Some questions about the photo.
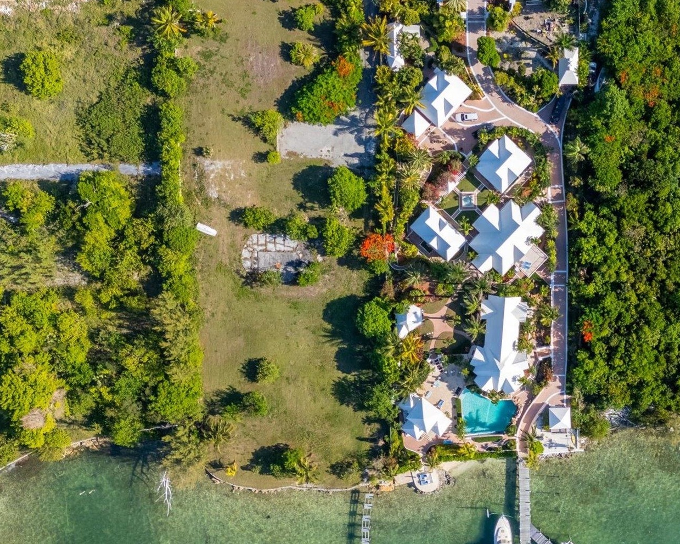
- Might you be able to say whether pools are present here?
Yes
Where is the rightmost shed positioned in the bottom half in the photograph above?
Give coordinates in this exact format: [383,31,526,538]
[549,406,571,429]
